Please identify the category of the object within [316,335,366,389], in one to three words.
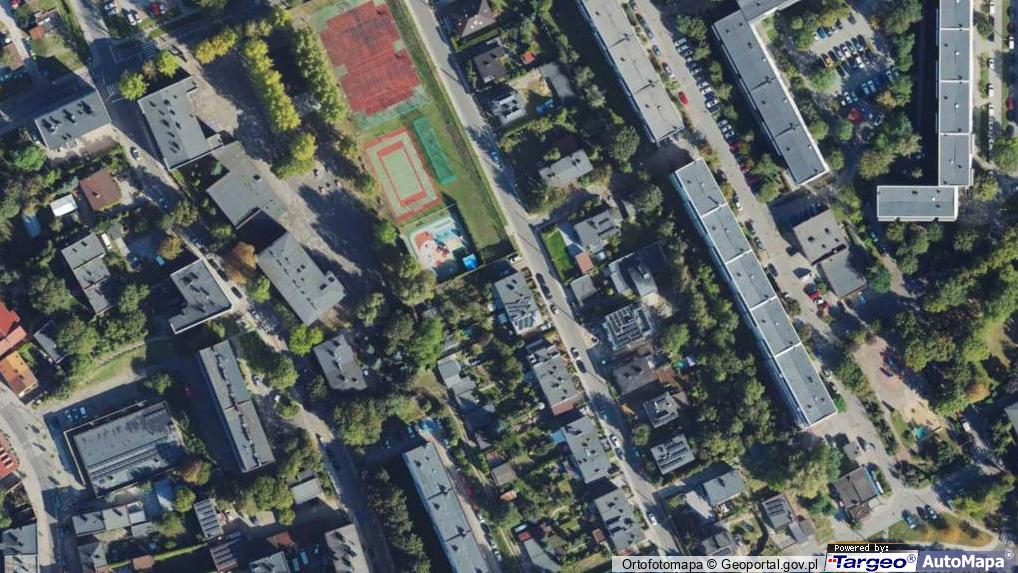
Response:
house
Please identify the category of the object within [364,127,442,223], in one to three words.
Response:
sports court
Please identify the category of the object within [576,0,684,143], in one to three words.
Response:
building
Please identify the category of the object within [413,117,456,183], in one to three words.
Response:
sports court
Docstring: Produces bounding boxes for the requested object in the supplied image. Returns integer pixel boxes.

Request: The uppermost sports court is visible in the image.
[309,0,430,130]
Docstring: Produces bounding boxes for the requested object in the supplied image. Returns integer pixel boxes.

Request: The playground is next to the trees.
[402,210,482,280]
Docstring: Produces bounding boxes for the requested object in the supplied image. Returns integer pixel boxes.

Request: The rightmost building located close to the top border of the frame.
[933,0,972,187]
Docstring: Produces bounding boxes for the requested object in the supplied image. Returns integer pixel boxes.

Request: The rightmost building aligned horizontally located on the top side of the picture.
[873,186,956,221]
